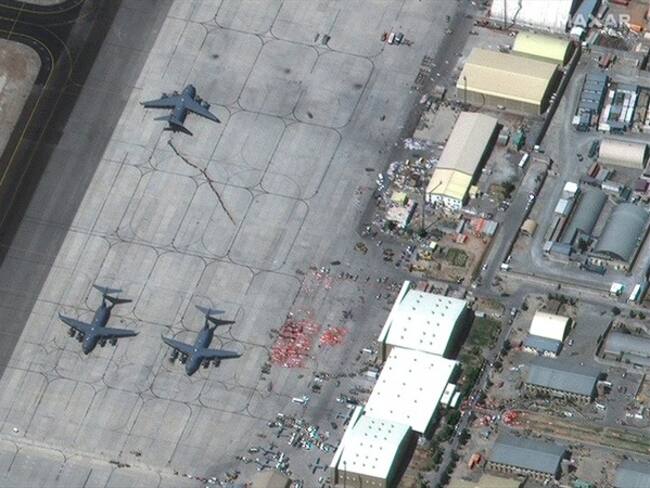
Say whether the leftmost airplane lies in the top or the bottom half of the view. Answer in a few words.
bottom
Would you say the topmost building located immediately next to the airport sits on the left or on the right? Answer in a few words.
right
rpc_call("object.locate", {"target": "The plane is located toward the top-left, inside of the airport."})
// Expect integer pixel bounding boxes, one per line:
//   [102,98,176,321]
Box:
[139,84,215,130]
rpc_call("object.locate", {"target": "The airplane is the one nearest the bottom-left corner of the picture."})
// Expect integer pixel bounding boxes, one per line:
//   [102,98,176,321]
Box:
[60,282,137,354]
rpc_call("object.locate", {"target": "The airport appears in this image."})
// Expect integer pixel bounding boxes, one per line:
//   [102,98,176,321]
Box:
[0,0,481,488]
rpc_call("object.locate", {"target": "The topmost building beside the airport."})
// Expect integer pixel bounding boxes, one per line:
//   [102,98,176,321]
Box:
[490,0,578,37]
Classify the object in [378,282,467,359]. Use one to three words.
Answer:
hangar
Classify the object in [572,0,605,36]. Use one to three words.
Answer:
shed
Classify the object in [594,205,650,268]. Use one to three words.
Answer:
building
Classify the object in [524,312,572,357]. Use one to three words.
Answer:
building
